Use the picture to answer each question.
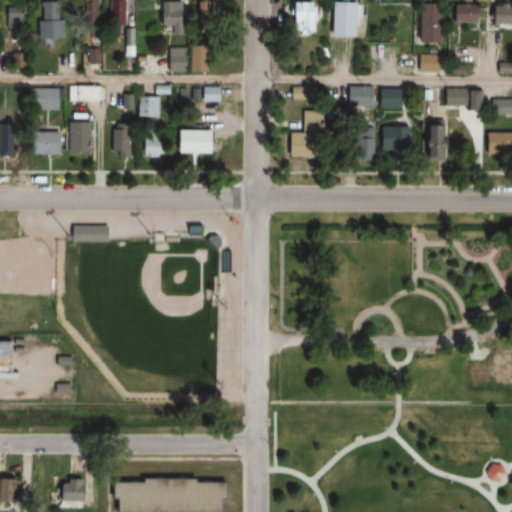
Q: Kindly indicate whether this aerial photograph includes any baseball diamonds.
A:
Yes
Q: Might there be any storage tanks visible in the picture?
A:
No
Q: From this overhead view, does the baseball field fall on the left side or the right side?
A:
left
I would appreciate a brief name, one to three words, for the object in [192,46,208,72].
building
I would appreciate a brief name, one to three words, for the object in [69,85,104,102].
building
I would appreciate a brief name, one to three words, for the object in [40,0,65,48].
house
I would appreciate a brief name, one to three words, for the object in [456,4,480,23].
house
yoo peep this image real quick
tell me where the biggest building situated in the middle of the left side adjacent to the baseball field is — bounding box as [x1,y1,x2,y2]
[73,226,109,242]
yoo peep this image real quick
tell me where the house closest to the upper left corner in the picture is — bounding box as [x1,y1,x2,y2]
[8,7,24,38]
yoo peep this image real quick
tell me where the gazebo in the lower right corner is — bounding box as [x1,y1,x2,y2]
[486,462,507,482]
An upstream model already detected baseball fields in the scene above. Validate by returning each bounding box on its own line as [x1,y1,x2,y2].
[57,236,218,398]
